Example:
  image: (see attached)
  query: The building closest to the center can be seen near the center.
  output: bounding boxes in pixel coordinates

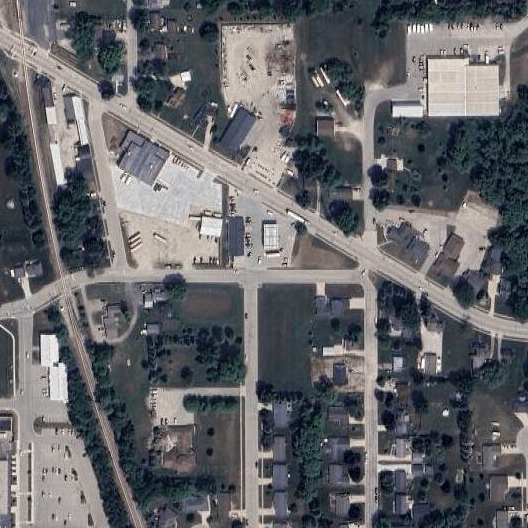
[227,215,245,256]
